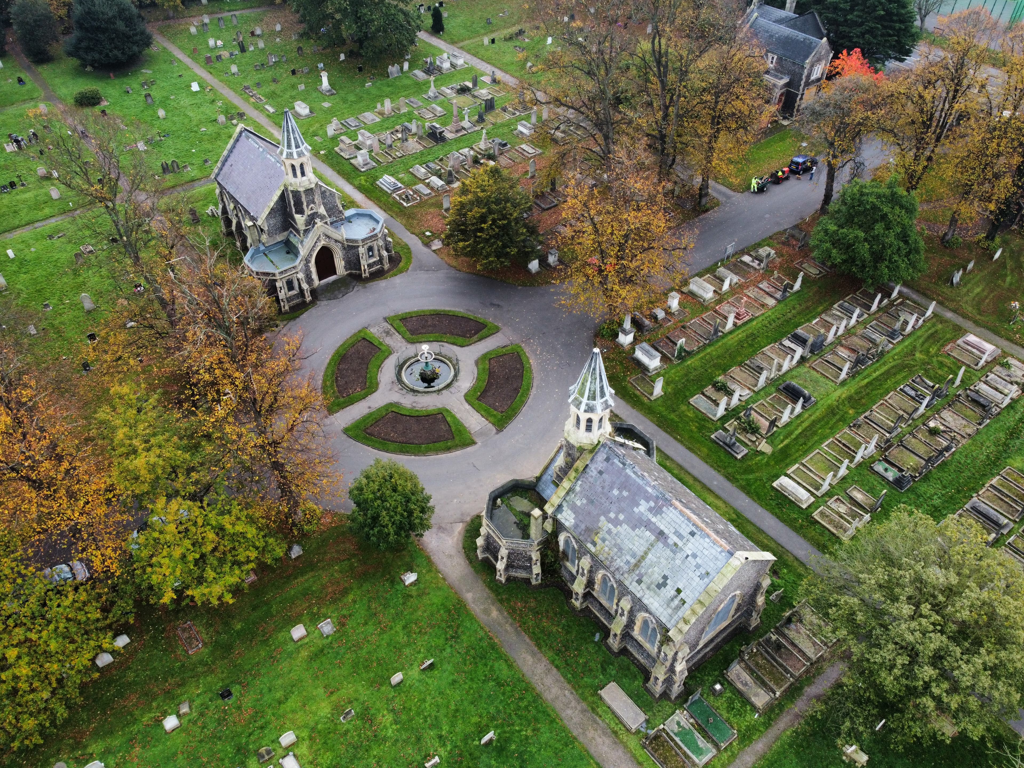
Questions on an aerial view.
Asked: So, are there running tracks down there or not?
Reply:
No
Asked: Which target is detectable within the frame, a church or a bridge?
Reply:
church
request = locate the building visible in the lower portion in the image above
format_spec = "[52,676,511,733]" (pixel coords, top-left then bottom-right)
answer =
[483,347,772,694]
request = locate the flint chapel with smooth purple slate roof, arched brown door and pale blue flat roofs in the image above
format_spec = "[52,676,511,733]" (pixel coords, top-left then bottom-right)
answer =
[211,107,391,310]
